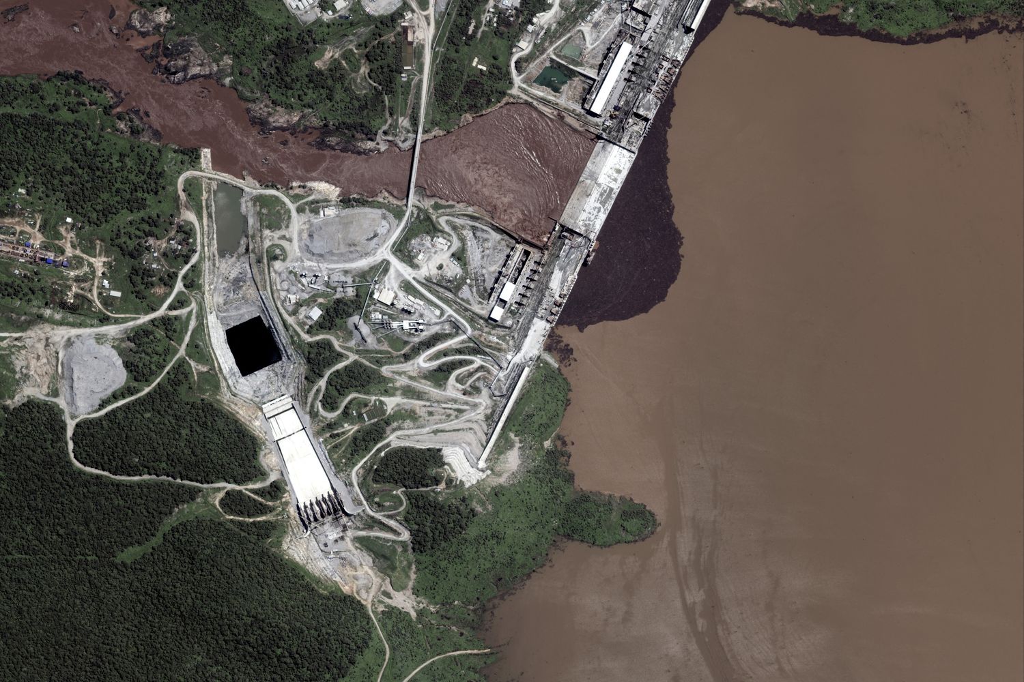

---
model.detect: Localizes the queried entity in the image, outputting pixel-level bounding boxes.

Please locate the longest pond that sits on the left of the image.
[215,182,248,261]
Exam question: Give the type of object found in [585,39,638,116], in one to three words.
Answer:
building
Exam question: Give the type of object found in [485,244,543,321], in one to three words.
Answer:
building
